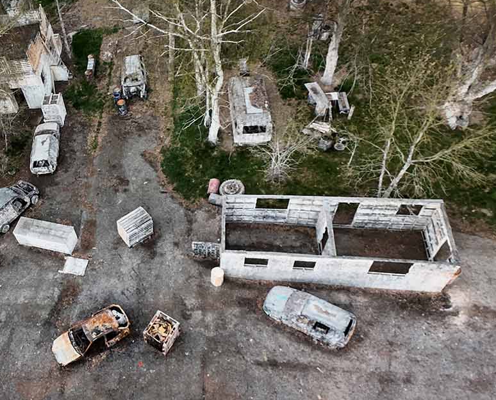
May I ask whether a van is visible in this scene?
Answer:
Yes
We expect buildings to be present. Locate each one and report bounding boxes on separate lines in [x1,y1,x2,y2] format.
[221,195,462,292]
[0,6,73,109]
